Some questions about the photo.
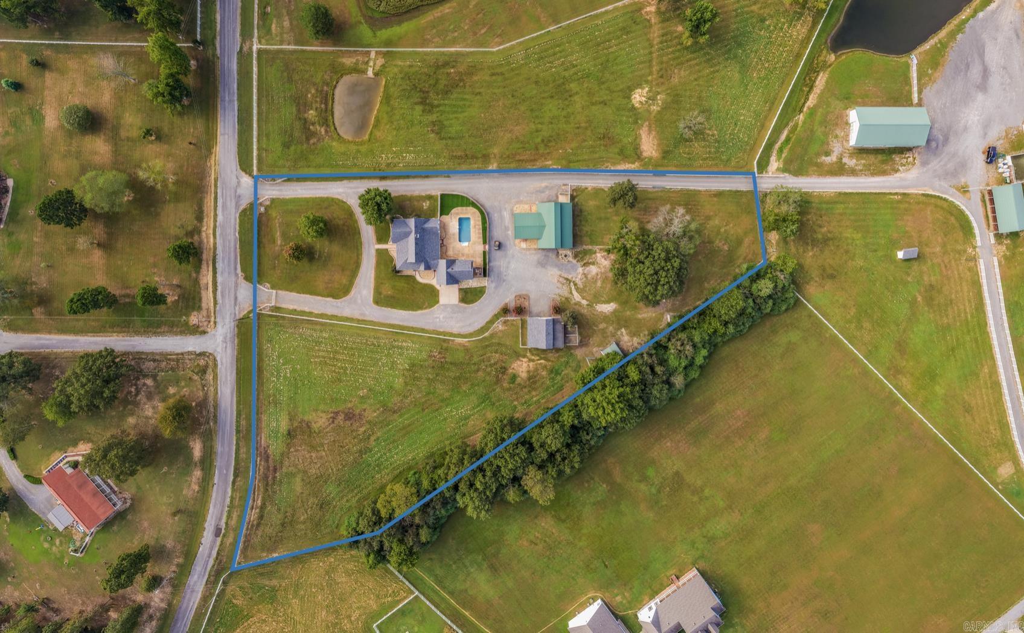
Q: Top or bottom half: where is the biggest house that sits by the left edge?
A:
bottom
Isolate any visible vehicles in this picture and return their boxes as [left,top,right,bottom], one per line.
[986,145,998,163]
[494,241,499,249]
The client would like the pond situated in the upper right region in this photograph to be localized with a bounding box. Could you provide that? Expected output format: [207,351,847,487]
[828,0,973,57]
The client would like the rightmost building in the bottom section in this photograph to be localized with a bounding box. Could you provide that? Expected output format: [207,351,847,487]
[638,573,726,633]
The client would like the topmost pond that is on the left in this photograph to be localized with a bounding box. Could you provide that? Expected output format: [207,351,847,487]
[334,75,385,140]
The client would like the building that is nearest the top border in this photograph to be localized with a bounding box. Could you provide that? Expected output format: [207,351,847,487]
[848,106,931,148]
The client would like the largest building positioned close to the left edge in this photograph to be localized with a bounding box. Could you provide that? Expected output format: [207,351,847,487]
[41,466,116,534]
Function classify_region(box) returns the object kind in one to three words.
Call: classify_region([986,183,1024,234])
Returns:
barn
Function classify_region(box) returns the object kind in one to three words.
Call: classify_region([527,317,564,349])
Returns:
building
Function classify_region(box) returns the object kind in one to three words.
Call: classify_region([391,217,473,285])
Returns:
house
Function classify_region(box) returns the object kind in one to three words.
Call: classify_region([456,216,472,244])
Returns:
swimming pool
